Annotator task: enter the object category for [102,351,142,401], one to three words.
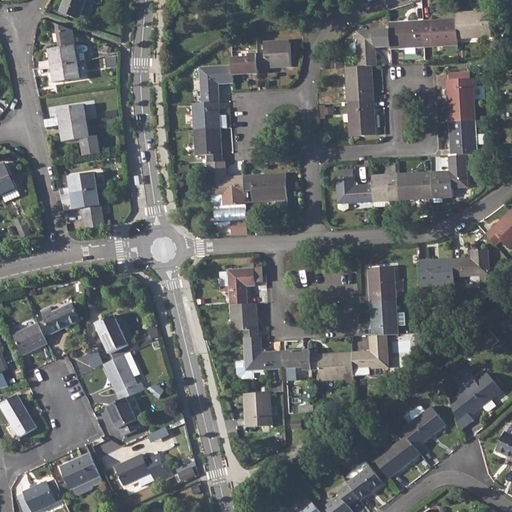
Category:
house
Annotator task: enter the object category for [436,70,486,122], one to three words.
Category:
house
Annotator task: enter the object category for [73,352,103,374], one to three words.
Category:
shed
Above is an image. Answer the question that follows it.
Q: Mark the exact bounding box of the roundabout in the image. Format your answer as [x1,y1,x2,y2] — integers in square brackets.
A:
[130,216,190,280]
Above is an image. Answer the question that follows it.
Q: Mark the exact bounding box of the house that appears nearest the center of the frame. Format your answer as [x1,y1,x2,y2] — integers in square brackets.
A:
[219,266,268,304]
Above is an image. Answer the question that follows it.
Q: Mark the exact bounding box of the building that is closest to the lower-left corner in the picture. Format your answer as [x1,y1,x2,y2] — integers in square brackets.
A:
[17,482,54,512]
